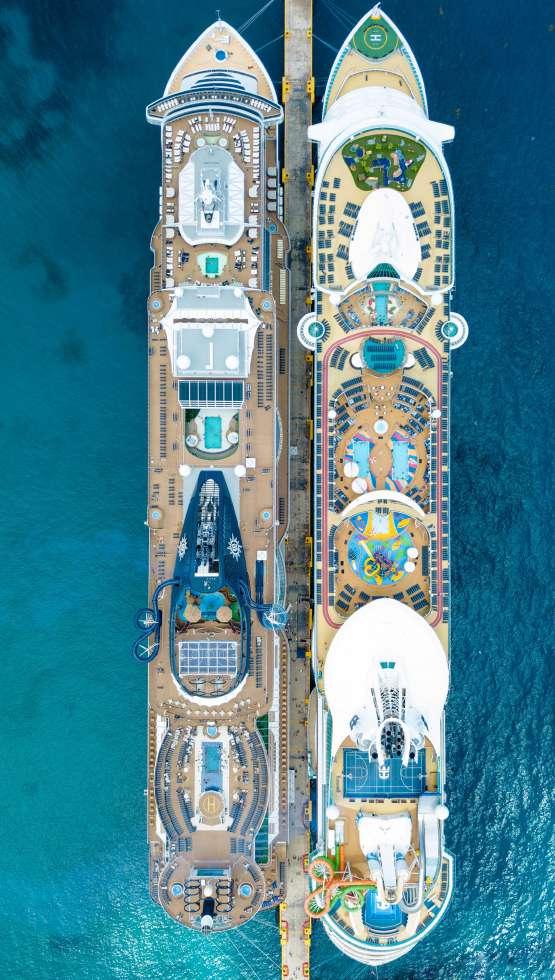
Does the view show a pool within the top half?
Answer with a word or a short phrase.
Yes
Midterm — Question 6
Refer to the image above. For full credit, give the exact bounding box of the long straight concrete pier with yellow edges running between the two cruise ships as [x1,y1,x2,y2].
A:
[281,0,312,980]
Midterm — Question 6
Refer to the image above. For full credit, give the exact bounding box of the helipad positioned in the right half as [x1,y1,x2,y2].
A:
[345,14,405,60]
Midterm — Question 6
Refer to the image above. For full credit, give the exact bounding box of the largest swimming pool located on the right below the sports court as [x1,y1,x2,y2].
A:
[360,890,410,931]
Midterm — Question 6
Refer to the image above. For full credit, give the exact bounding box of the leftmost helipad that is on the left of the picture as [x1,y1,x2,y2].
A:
[198,791,225,817]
